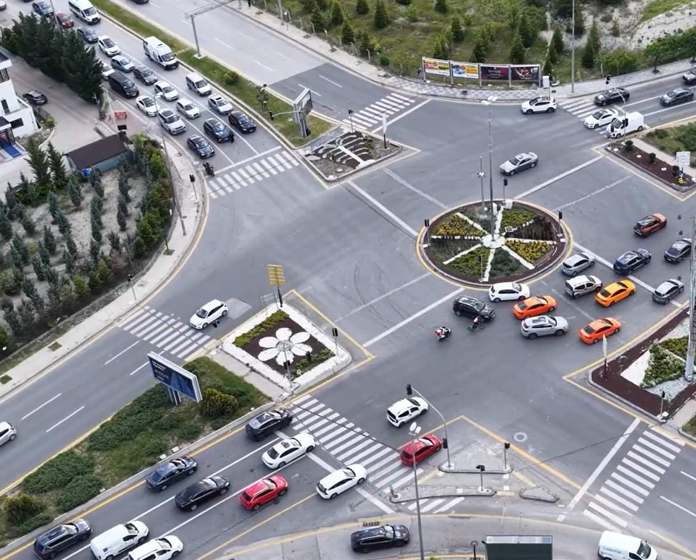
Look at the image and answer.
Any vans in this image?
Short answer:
Yes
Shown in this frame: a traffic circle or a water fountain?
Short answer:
traffic circle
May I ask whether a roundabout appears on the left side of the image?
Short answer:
No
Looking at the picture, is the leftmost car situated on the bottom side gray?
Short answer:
Yes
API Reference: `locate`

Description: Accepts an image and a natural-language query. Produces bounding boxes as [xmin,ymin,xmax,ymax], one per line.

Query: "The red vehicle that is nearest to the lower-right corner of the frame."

[577,319,624,344]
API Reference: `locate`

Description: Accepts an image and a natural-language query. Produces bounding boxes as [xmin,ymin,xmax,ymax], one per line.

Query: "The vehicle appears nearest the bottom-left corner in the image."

[31,519,96,560]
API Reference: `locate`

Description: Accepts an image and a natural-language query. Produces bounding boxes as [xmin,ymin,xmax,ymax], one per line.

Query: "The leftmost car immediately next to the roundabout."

[451,294,496,322]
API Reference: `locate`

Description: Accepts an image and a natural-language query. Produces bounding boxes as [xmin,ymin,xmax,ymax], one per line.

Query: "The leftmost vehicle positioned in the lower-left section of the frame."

[0,424,21,449]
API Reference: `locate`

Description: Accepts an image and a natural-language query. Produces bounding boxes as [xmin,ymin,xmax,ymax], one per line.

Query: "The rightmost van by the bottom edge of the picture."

[596,529,659,560]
